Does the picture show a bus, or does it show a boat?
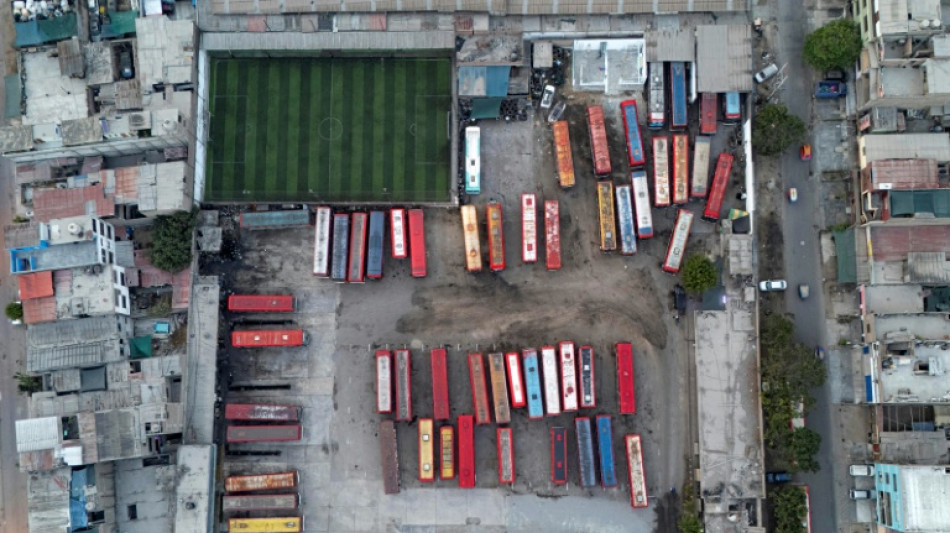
bus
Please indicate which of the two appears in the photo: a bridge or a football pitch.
football pitch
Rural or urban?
urban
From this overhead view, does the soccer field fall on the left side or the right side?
left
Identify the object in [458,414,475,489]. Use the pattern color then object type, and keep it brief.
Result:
red vehicle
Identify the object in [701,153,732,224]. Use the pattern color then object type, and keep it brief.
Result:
red bus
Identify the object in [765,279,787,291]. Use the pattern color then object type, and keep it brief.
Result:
white vehicle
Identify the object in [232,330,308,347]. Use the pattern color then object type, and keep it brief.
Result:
red vehicle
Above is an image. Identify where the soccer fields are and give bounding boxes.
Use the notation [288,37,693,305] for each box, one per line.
[205,57,451,199]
